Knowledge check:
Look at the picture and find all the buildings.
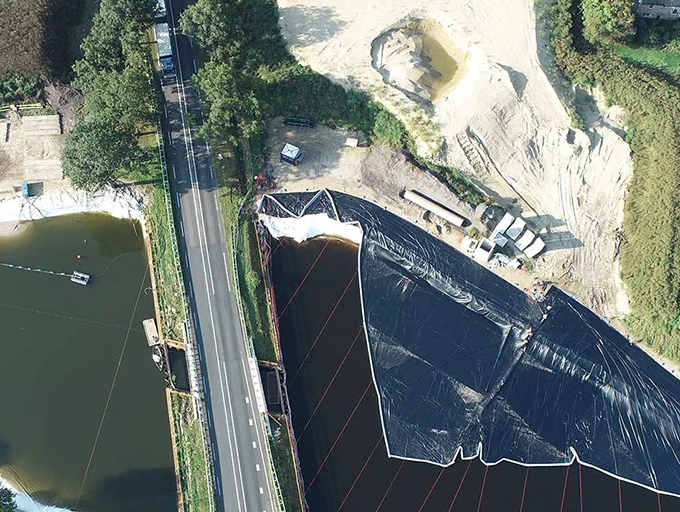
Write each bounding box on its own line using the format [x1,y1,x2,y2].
[624,0,680,20]
[281,147,299,167]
